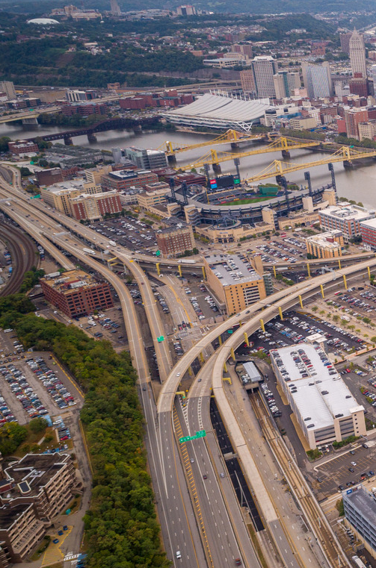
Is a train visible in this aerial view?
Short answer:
No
